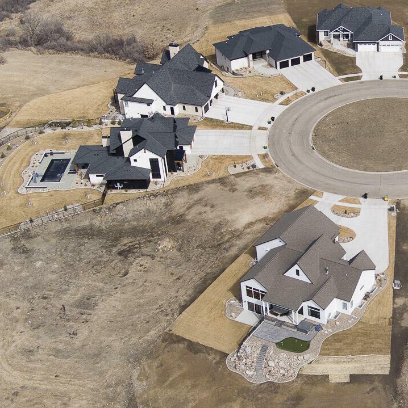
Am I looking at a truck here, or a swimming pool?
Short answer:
swimming pool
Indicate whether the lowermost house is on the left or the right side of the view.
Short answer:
right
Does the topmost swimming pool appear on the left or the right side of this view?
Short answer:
left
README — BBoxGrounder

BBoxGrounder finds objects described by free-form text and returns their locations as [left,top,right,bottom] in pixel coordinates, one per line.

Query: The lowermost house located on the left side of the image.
[68,109,199,192]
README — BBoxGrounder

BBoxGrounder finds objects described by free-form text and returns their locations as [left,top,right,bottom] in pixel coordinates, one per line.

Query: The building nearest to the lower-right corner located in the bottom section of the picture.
[239,202,385,336]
